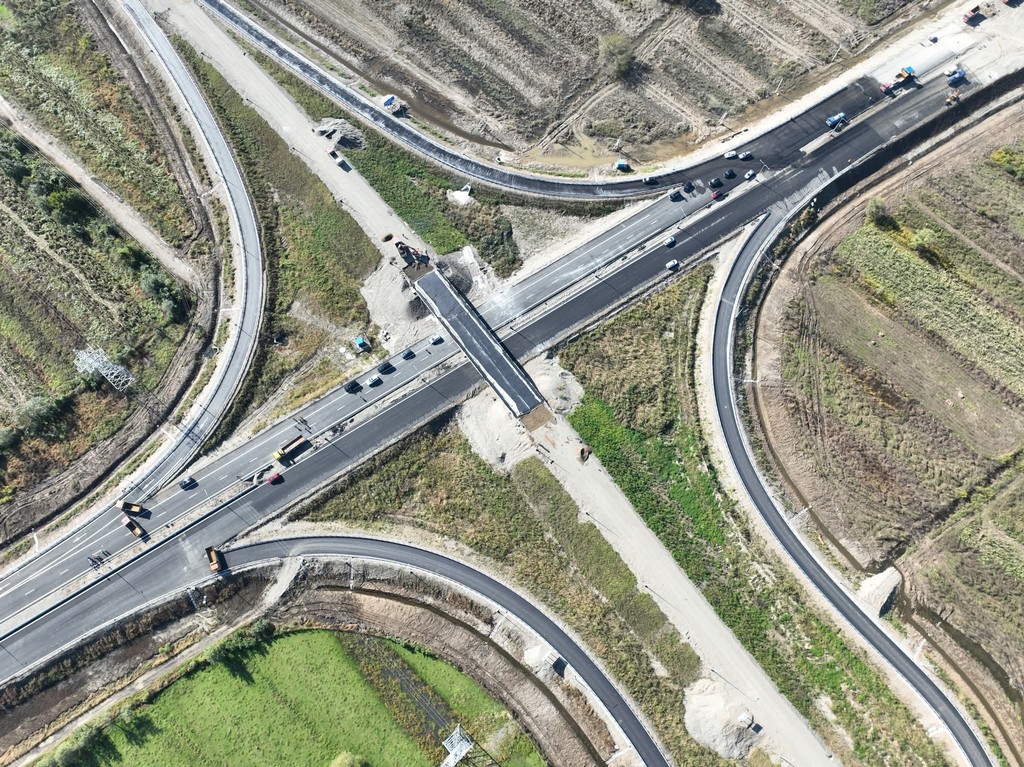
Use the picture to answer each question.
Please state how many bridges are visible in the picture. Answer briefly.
1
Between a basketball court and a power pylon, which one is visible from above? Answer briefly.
power pylon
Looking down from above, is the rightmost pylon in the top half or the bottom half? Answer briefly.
bottom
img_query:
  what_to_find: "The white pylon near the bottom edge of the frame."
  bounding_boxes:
[434,720,474,767]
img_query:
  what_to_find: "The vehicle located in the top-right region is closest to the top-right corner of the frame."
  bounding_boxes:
[964,0,985,20]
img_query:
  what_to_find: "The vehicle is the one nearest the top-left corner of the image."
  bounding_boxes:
[328,144,349,166]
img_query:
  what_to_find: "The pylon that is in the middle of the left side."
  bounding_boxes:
[69,346,136,397]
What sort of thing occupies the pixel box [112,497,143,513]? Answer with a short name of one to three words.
vehicle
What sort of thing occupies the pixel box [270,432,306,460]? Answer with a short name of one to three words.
truck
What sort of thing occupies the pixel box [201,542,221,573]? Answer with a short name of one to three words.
vehicle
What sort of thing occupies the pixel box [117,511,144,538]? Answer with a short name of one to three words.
truck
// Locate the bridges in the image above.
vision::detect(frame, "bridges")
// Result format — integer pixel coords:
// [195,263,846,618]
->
[401,254,555,433]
